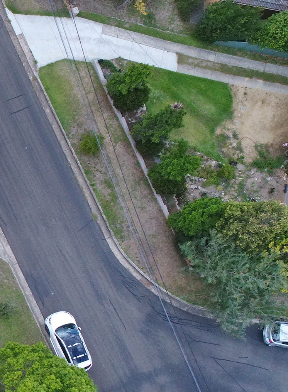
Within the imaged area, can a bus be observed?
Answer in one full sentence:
No, no bus is visible in the view.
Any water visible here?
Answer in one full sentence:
No, the scene doesn't show any water.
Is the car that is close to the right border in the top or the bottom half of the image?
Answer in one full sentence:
It is in the bottom half that the car that is close to the right border appears.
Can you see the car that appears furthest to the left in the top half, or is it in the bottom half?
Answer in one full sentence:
It is in the bottom half that the car that appears furthest to the left appears.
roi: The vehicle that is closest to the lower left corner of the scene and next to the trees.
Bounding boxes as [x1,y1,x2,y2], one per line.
[47,308,100,375]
